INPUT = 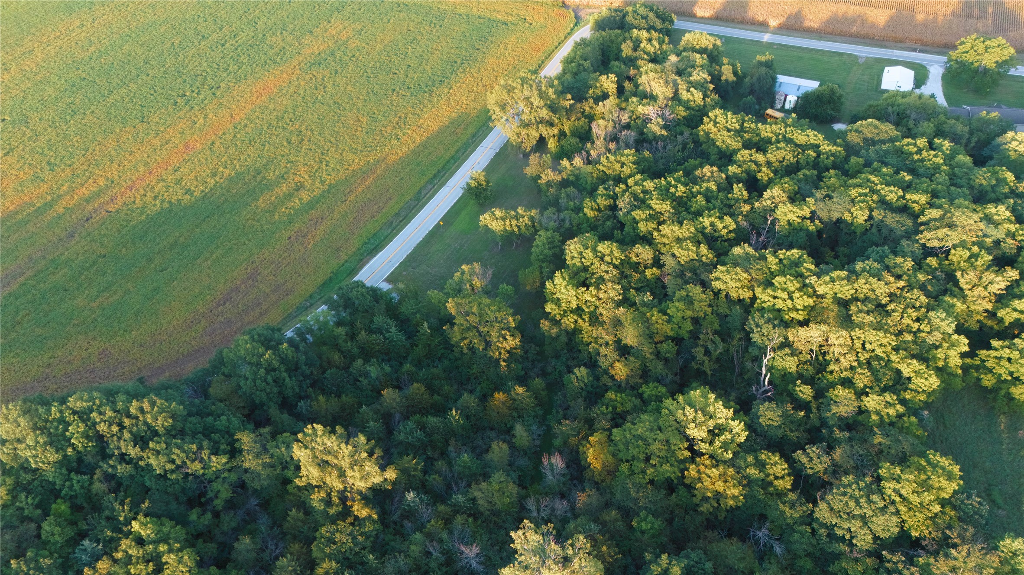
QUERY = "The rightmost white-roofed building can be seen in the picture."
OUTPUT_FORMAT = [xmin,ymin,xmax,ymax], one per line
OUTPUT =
[882,66,916,93]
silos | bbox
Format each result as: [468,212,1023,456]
[771,91,785,111]
[782,95,797,113]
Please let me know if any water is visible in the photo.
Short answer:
No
